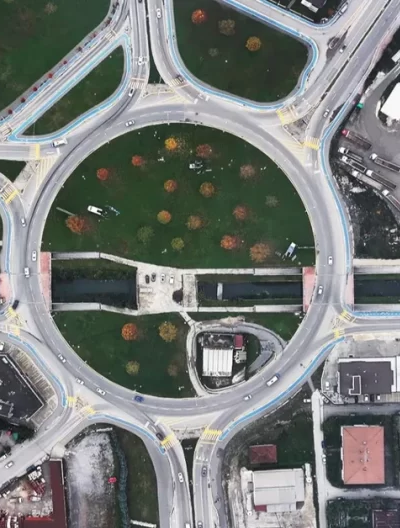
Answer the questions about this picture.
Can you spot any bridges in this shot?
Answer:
Yes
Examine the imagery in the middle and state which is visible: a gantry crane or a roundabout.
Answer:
roundabout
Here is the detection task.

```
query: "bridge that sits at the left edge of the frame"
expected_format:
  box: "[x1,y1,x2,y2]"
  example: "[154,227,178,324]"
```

[0,252,51,309]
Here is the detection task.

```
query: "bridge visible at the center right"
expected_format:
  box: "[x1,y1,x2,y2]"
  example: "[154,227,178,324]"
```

[302,266,353,311]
